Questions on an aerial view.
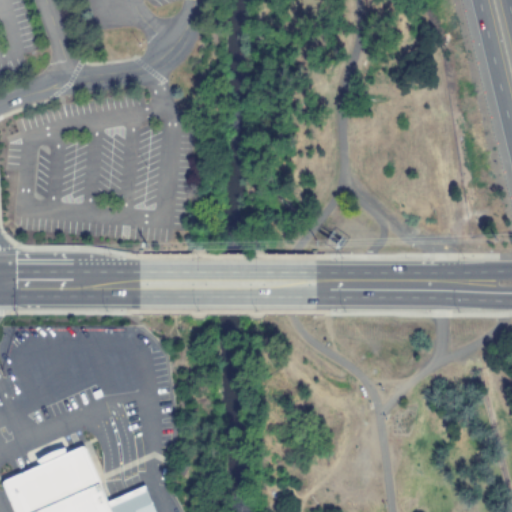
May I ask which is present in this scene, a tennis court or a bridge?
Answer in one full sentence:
The image shows a bridge.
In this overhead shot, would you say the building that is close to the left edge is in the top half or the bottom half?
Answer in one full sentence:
It is in the bottom half that the building that is close to the left edge appears.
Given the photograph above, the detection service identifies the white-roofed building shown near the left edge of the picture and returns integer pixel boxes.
[3,446,115,512]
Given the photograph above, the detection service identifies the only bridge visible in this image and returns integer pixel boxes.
[138,252,319,315]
